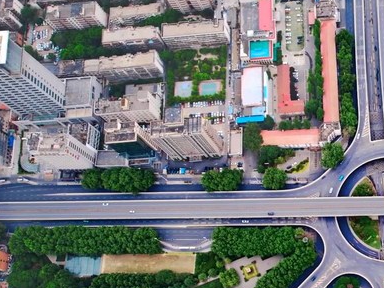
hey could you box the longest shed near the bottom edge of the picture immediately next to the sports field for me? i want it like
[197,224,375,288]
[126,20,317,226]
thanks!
[67,256,105,275]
